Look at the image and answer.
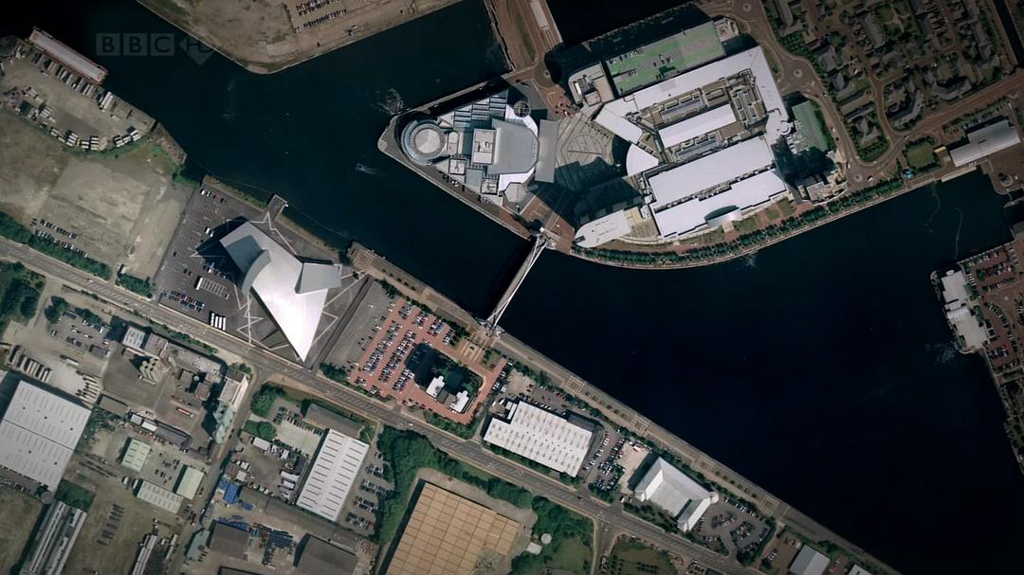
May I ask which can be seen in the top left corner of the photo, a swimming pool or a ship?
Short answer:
ship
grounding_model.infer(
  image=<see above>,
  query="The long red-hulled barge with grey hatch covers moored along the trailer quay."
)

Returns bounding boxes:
[29,28,108,80]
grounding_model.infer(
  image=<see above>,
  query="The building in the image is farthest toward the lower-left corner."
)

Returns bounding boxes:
[17,500,90,575]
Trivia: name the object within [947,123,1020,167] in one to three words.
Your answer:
shed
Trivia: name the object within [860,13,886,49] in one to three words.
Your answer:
house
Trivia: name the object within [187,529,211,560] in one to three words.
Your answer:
shed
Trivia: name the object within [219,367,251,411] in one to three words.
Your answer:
building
